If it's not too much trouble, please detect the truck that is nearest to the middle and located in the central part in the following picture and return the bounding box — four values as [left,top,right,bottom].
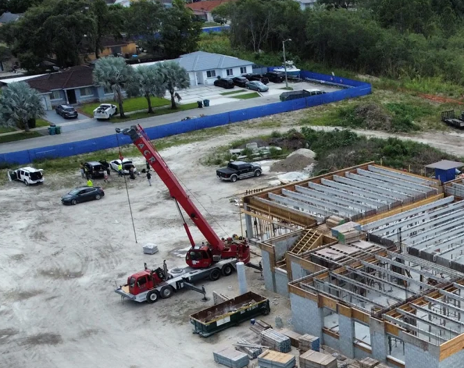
[210,160,265,181]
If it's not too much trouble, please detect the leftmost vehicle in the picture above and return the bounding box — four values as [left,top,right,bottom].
[7,161,46,183]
